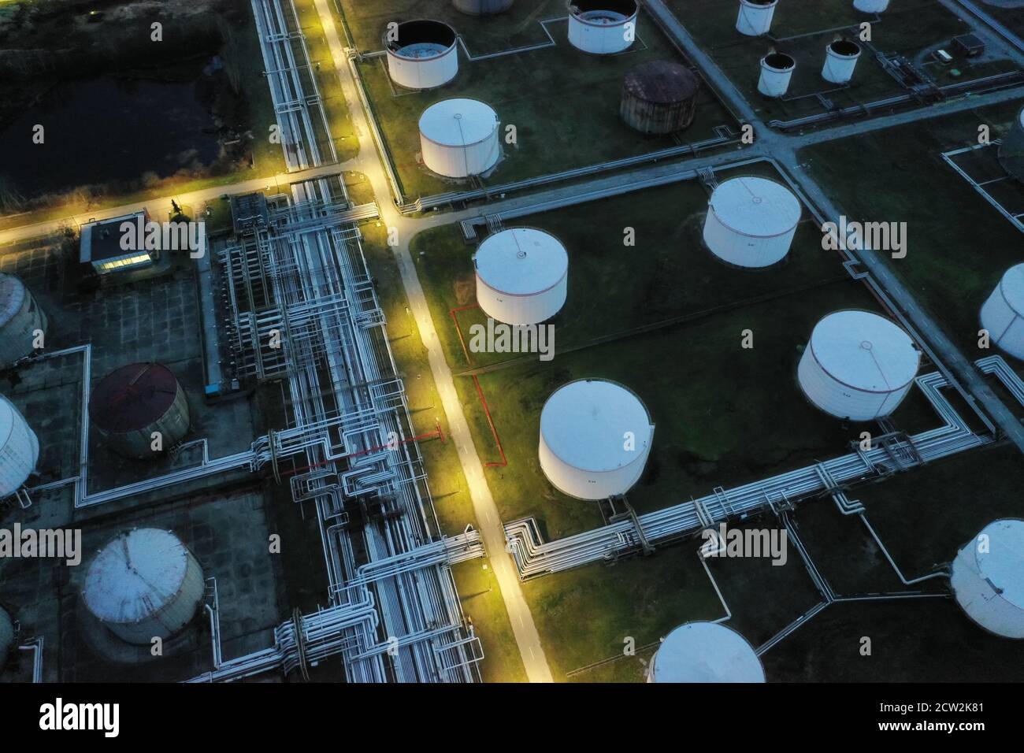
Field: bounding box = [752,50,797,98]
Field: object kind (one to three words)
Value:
storage tank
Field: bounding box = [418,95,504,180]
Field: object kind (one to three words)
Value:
storage tank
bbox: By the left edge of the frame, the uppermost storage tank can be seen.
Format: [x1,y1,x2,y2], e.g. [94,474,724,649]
[0,270,48,369]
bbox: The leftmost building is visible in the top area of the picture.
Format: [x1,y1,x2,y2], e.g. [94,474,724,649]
[81,207,153,277]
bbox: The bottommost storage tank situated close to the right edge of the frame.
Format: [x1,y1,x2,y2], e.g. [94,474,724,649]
[948,515,1024,642]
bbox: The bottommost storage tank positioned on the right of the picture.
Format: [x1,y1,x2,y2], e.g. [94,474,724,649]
[641,616,769,753]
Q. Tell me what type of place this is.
industrial area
